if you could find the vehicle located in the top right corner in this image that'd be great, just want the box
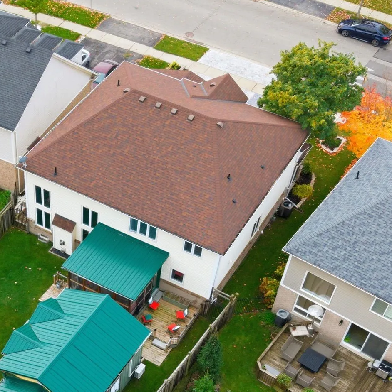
[336,16,392,47]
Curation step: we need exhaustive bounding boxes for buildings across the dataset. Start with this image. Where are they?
[274,143,392,360]
[0,287,152,392]
[14,63,311,304]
